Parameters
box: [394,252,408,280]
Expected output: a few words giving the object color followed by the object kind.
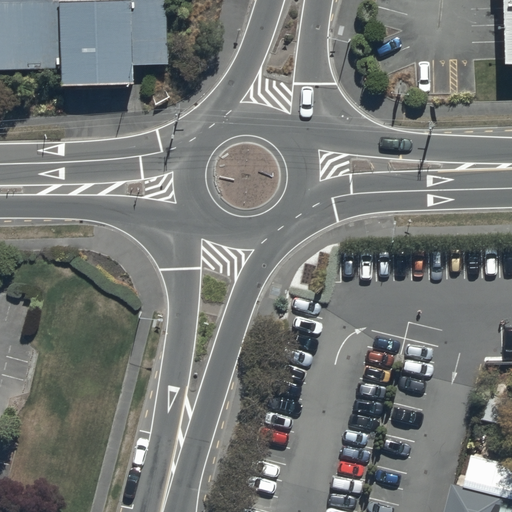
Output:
black car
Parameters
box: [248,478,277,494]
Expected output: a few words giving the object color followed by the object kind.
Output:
white car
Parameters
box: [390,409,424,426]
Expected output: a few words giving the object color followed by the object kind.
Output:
black car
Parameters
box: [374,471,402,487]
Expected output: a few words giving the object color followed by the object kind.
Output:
blue car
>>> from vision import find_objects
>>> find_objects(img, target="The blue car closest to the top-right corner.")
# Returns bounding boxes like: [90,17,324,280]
[376,37,402,58]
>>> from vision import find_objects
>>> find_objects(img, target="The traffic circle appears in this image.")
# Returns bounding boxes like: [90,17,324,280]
[187,116,307,236]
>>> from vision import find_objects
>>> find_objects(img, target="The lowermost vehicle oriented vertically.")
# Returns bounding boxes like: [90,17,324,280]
[124,469,142,502]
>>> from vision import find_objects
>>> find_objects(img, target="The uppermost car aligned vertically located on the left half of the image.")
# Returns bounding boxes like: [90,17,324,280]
[133,436,150,468]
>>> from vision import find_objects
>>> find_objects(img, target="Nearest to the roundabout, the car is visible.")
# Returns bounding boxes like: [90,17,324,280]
[300,86,314,118]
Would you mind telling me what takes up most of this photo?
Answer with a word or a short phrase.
paved ground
